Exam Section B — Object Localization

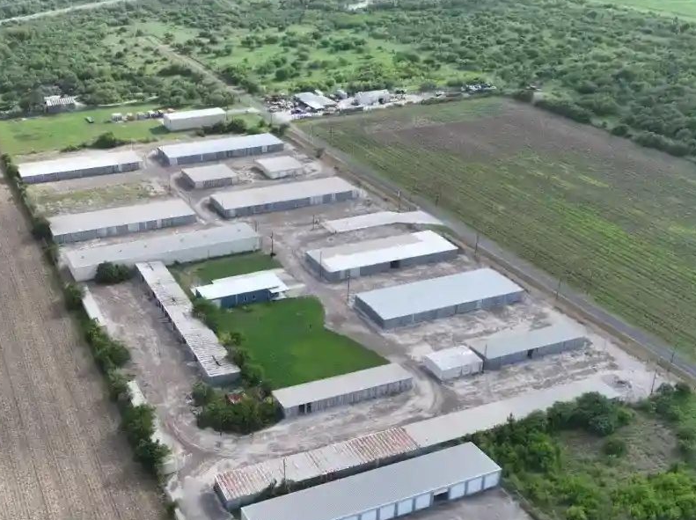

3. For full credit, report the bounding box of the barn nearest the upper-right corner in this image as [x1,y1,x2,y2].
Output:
[349,89,391,103]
